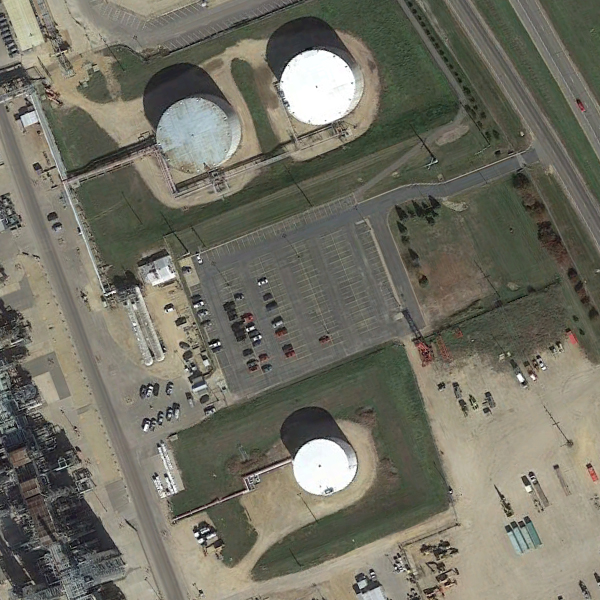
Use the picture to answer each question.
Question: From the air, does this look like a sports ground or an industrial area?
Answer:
industrial area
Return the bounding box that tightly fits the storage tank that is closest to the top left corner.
[156,92,243,174]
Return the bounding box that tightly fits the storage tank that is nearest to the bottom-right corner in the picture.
[292,433,360,498]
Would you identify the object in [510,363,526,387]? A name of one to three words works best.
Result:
vehicle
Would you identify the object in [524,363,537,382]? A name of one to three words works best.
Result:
vehicle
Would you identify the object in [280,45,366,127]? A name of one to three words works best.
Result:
storage tank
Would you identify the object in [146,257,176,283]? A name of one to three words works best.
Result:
building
